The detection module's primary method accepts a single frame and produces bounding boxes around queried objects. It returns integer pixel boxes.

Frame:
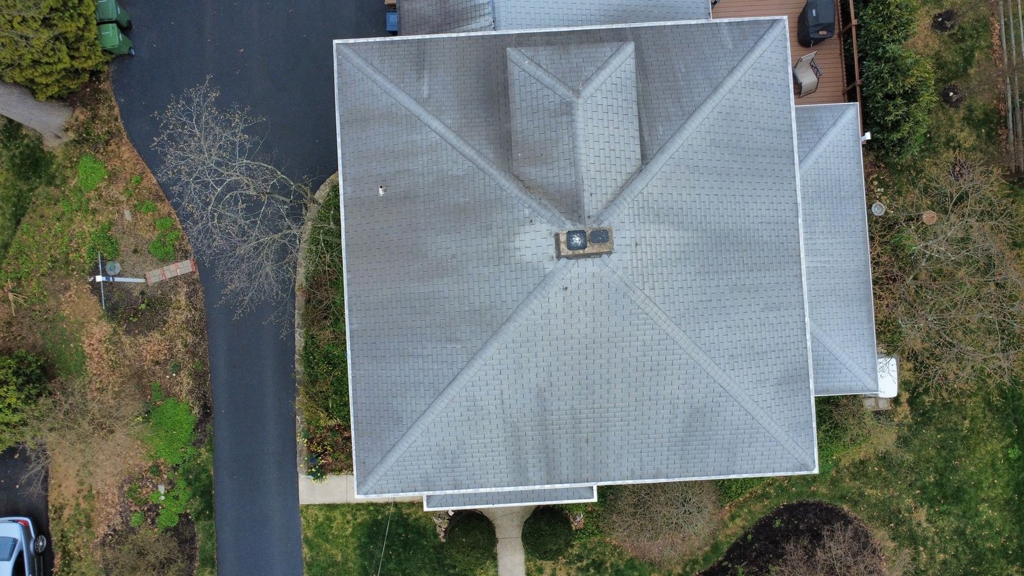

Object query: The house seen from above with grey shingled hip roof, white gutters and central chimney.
[335,0,878,510]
